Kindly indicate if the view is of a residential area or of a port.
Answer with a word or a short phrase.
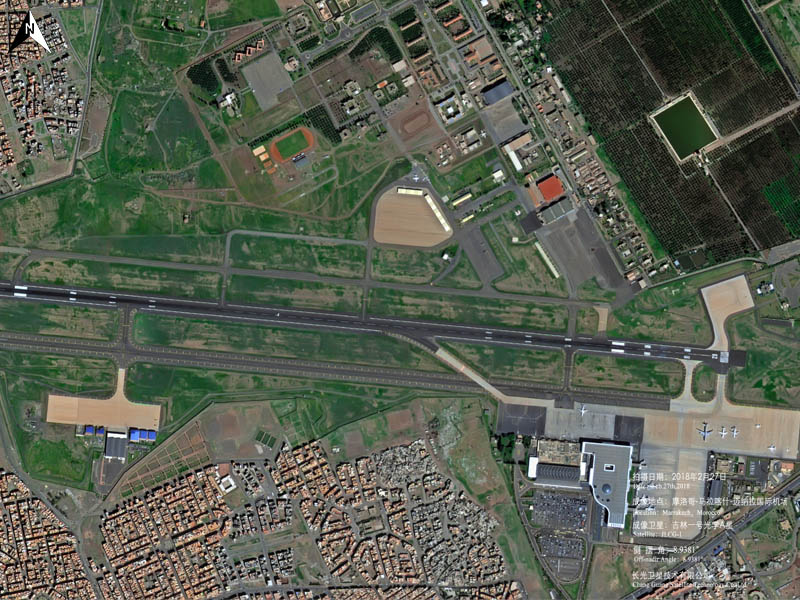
residential area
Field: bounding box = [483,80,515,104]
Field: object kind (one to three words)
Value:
hangar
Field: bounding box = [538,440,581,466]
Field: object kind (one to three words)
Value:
building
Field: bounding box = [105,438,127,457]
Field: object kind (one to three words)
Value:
hangar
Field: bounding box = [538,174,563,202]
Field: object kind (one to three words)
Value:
building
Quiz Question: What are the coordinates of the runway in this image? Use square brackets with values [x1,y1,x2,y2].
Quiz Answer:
[0,280,730,366]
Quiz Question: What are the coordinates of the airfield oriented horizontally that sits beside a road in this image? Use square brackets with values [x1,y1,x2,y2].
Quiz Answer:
[0,162,800,545]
